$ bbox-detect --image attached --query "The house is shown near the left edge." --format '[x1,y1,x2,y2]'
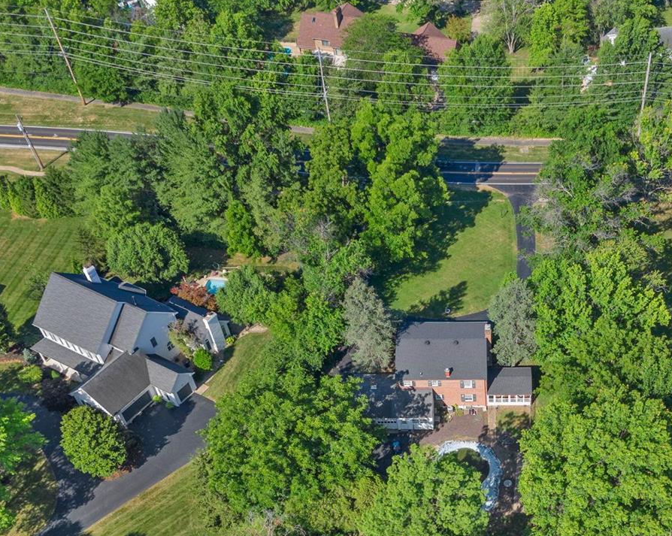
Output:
[27,261,235,426]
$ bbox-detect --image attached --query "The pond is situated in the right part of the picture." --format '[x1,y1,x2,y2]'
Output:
[442,437,502,512]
